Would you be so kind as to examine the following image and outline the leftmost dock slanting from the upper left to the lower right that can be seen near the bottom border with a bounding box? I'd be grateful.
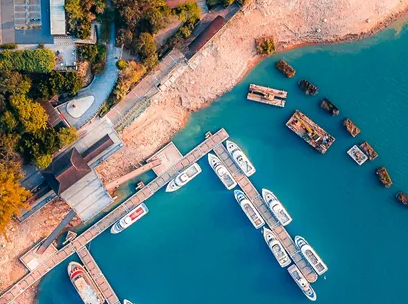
[73,248,117,304]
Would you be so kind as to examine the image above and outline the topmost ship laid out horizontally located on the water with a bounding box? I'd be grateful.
[245,82,288,108]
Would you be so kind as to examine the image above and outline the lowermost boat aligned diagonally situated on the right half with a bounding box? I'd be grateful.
[287,263,316,303]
